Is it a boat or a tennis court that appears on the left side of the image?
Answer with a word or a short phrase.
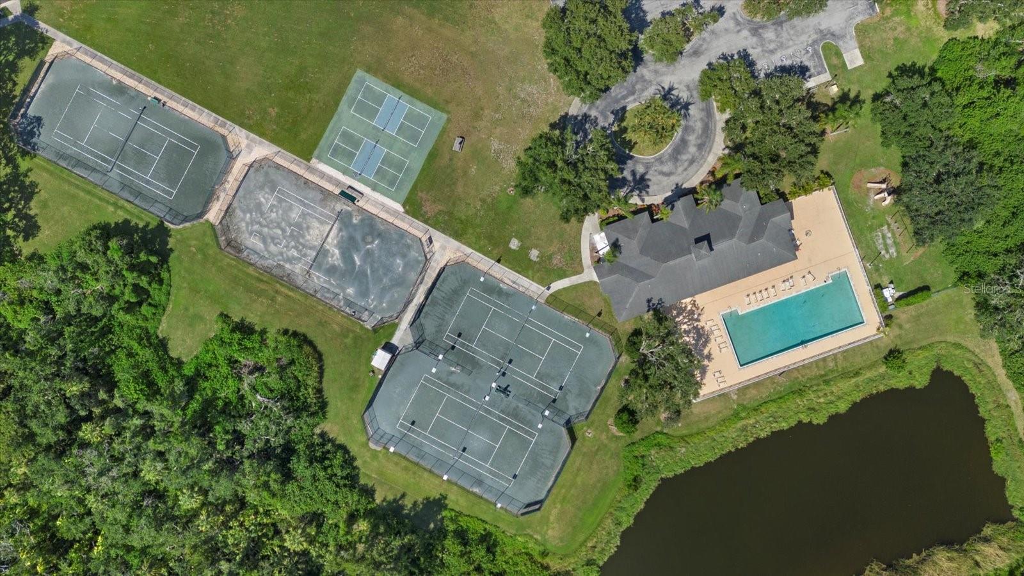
tennis court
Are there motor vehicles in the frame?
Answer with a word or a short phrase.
No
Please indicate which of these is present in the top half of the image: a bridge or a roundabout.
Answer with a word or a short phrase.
roundabout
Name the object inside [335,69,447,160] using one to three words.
sports court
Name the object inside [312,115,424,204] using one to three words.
sports court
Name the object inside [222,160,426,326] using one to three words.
tennis court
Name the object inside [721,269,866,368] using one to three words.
swimming pool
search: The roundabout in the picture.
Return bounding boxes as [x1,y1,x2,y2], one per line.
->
[614,96,680,156]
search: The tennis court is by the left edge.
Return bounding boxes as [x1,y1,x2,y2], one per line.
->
[23,55,233,223]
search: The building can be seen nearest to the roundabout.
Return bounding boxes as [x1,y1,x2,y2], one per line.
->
[594,179,800,321]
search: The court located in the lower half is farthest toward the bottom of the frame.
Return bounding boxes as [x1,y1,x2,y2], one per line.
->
[366,350,570,511]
